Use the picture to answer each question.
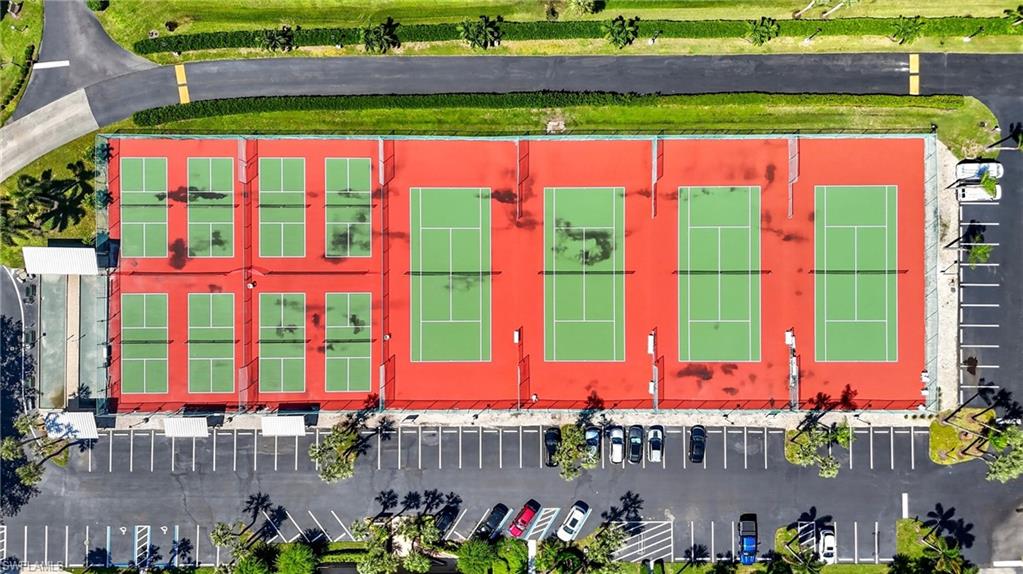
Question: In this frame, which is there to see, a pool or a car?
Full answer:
The one in the frame is a car.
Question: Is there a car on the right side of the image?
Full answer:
Yes, a car appears on the right side of the image.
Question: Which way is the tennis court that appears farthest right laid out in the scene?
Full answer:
From this overhead view, the tennis court that appears farthest right appears to run up and down.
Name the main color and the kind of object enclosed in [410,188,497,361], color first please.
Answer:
green tennis court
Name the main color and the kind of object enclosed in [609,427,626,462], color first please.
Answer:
white car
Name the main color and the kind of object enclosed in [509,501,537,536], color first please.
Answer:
red car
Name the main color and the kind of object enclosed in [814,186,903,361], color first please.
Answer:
green tennis court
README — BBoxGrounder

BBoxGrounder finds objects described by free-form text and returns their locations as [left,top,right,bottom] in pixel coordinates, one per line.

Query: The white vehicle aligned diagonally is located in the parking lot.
[556,504,585,538]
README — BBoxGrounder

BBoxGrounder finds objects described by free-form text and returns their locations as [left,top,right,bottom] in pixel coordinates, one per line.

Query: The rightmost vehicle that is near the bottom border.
[818,528,837,563]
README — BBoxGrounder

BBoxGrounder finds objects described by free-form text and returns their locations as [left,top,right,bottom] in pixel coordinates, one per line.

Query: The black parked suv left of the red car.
[479,502,508,536]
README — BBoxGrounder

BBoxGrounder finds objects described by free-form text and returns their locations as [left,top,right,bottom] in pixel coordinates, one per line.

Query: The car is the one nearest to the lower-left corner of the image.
[435,502,461,535]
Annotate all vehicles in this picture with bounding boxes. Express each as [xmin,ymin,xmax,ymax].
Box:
[957,185,1002,203]
[690,426,708,463]
[584,426,602,461]
[628,426,645,462]
[609,427,626,462]
[818,528,837,563]
[648,428,665,462]
[957,163,1004,181]
[509,501,537,536]
[738,518,757,562]
[544,428,560,465]
[556,504,585,538]
[479,502,508,536]
[435,502,461,535]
